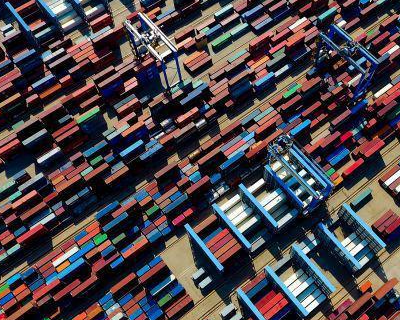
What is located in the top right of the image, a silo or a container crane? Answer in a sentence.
You can see a container crane in the top right of the image.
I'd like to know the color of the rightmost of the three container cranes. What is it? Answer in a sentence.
The color of the rightmost of the three container cranes is blue.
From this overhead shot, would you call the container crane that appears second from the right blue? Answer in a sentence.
Yes, blue is the color of the container crane that appears second from the right.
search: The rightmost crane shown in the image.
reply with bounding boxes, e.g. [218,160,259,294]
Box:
[311,22,382,105]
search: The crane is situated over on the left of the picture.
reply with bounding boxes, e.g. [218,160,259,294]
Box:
[123,11,184,93]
